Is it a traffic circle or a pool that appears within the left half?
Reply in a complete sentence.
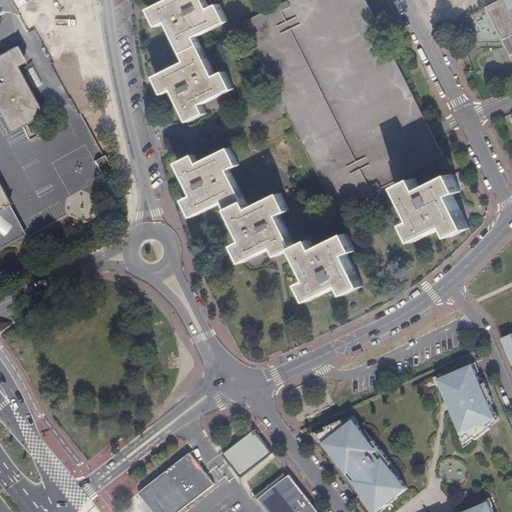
You can see a traffic circle within the left half.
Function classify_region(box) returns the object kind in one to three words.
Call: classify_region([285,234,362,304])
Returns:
building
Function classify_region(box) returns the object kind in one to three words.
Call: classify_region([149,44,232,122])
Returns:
building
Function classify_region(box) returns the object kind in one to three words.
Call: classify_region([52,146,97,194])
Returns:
sports court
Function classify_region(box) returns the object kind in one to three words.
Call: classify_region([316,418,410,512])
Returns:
house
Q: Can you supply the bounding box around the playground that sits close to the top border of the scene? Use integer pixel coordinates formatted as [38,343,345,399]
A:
[475,12,502,42]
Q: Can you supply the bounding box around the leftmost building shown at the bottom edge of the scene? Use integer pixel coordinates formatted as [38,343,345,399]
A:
[138,452,215,512]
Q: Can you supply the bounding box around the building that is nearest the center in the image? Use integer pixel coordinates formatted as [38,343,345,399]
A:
[220,193,292,264]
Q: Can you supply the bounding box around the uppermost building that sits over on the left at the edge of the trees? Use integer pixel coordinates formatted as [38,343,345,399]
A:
[142,0,228,52]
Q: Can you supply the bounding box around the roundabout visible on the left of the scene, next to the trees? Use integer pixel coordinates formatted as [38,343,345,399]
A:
[122,222,180,280]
